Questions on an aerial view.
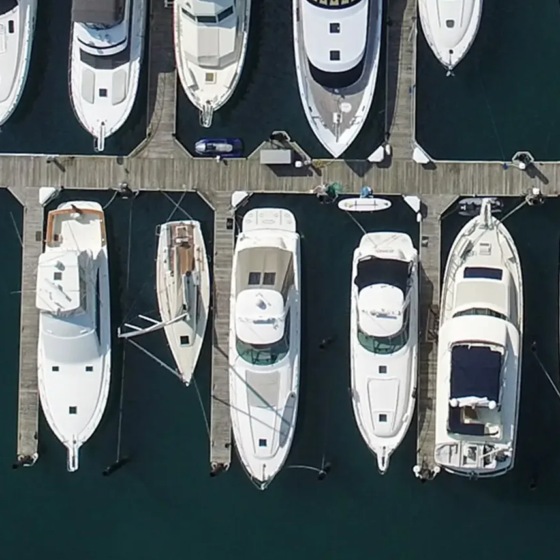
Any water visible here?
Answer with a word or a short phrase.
Yes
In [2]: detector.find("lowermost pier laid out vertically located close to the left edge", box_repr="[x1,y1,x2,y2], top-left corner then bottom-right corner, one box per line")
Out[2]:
[7,189,62,466]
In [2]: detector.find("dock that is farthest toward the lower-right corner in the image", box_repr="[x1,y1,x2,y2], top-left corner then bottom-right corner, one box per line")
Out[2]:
[405,195,459,478]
